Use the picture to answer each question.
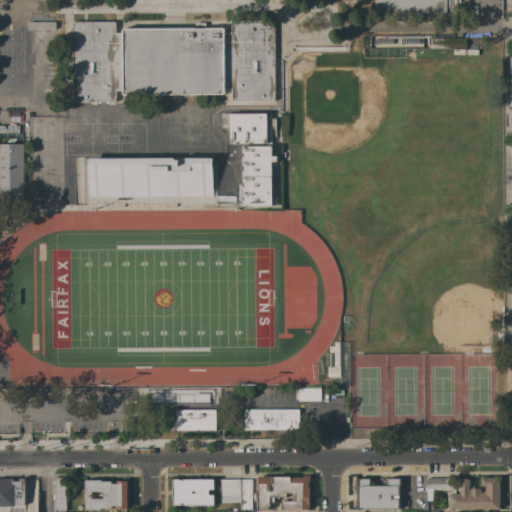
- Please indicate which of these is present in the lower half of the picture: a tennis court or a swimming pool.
tennis court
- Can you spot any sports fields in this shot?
Yes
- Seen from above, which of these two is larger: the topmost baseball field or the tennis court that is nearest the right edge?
the baseball field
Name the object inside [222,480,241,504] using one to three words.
house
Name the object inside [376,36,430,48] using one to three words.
shed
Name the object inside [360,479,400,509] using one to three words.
building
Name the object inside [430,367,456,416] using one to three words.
tennis court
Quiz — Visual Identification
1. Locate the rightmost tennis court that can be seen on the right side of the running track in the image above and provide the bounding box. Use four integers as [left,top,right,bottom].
[467,367,493,416]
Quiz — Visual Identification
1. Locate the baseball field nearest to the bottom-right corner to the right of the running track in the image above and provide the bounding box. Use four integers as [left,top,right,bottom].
[432,282,503,354]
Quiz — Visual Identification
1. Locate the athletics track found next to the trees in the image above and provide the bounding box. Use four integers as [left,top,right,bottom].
[0,210,344,386]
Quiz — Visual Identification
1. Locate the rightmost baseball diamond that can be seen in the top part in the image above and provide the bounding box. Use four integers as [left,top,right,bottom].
[292,58,387,154]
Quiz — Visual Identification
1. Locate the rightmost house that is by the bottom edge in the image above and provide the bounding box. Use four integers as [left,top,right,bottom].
[450,478,500,512]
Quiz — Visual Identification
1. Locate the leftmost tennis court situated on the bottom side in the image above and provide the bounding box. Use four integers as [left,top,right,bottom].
[357,367,383,416]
